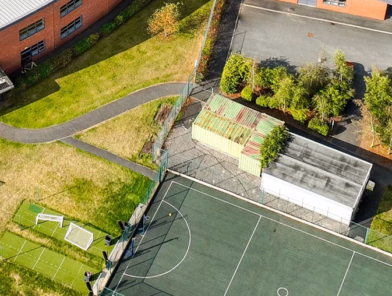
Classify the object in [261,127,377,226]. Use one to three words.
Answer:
shed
